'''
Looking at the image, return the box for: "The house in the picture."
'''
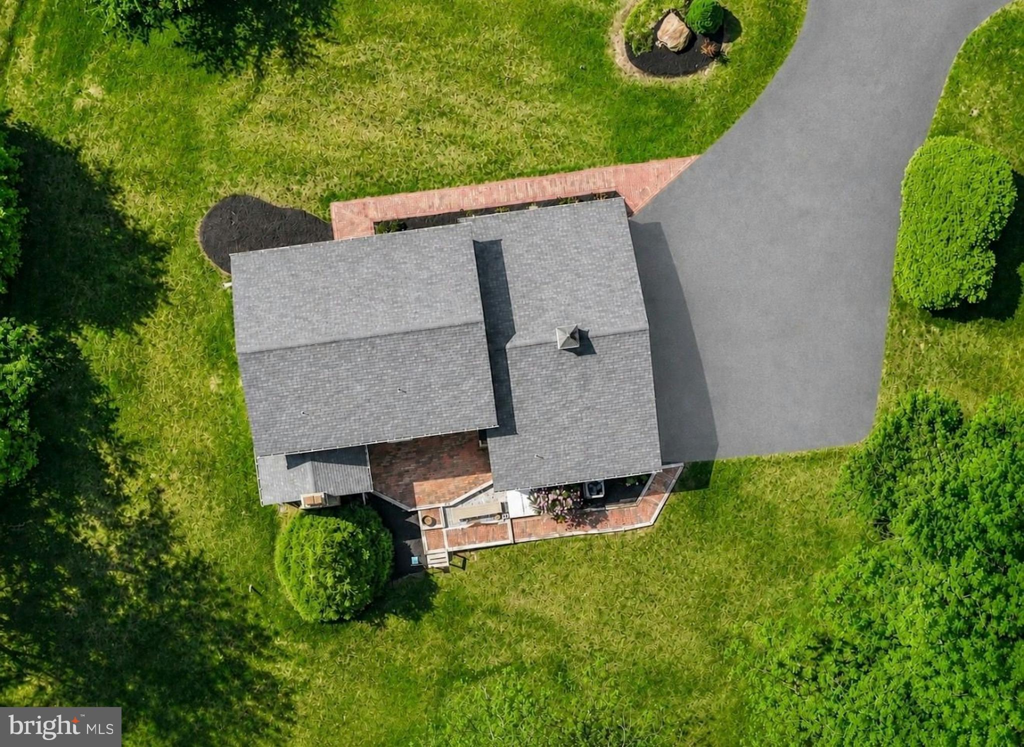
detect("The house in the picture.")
[225,195,662,508]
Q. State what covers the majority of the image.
grass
